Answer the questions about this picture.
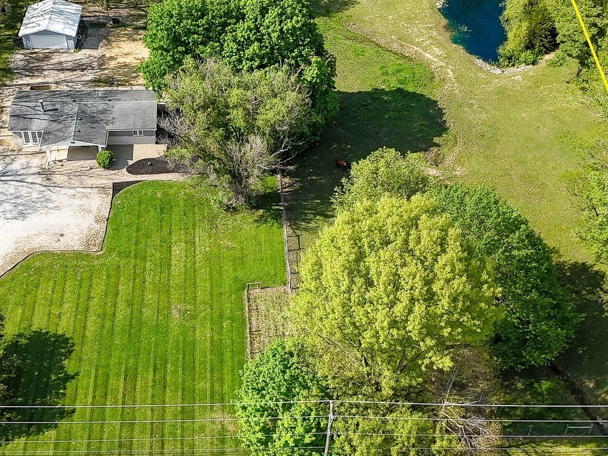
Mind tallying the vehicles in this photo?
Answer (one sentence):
There are no vehicles in the image.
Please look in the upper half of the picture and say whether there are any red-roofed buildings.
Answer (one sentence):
No, no red-roofed building is visible in the upper half of the picture.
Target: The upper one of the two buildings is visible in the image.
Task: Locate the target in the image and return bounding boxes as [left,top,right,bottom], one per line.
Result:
[21,0,83,50]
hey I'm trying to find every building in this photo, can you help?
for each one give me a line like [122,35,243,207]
[21,0,83,50]
[7,90,161,171]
